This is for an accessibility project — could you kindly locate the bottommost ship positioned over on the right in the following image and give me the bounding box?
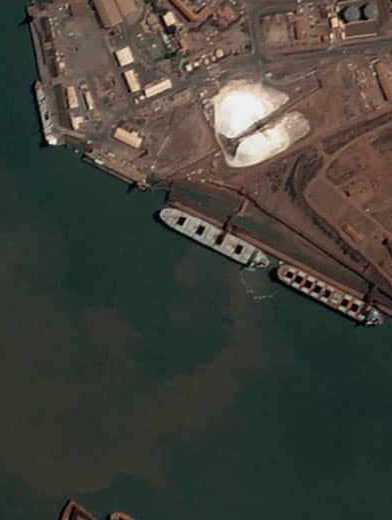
[278,267,385,327]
